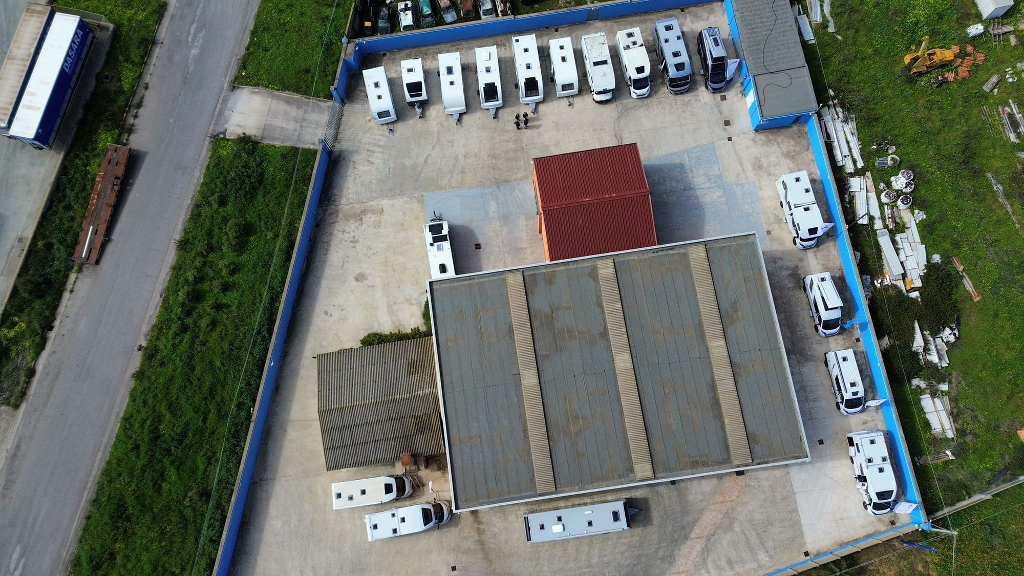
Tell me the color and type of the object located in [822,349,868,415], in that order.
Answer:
white van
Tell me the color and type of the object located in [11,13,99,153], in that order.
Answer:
white trailer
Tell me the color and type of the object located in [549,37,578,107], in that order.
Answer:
white camper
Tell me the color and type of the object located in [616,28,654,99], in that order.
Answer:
white camper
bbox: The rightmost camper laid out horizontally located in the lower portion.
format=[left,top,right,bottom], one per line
[524,500,644,543]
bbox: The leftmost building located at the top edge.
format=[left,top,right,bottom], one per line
[722,0,818,131]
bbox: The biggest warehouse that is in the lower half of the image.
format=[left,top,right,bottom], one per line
[427,233,809,512]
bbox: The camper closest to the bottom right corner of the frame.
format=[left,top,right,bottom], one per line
[846,430,899,514]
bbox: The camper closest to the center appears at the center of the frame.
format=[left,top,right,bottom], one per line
[422,211,457,280]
